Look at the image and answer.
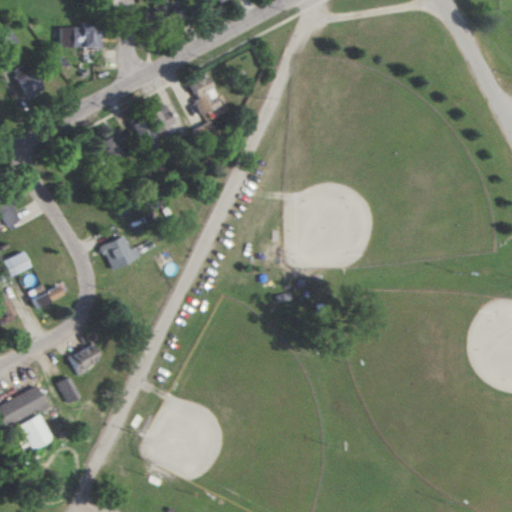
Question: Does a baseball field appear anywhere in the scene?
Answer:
Yes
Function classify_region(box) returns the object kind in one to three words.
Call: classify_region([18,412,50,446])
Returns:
building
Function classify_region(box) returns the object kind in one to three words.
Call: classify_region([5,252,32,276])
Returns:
building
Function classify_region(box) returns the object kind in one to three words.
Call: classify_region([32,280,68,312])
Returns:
house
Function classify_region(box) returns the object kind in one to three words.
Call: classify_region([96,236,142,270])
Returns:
house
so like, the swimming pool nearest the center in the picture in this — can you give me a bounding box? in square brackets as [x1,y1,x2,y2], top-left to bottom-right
[164,261,179,276]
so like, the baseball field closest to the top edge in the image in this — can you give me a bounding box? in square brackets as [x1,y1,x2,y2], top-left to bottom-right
[282,55,496,270]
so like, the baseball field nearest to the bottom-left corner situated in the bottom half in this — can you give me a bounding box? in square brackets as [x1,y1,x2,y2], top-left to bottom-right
[140,296,324,512]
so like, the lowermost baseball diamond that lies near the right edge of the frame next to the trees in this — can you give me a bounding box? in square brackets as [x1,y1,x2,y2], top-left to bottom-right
[346,288,512,512]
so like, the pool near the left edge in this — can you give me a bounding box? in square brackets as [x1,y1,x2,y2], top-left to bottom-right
[22,272,38,288]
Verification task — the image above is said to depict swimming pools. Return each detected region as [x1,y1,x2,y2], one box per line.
[164,261,179,276]
[22,272,38,288]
